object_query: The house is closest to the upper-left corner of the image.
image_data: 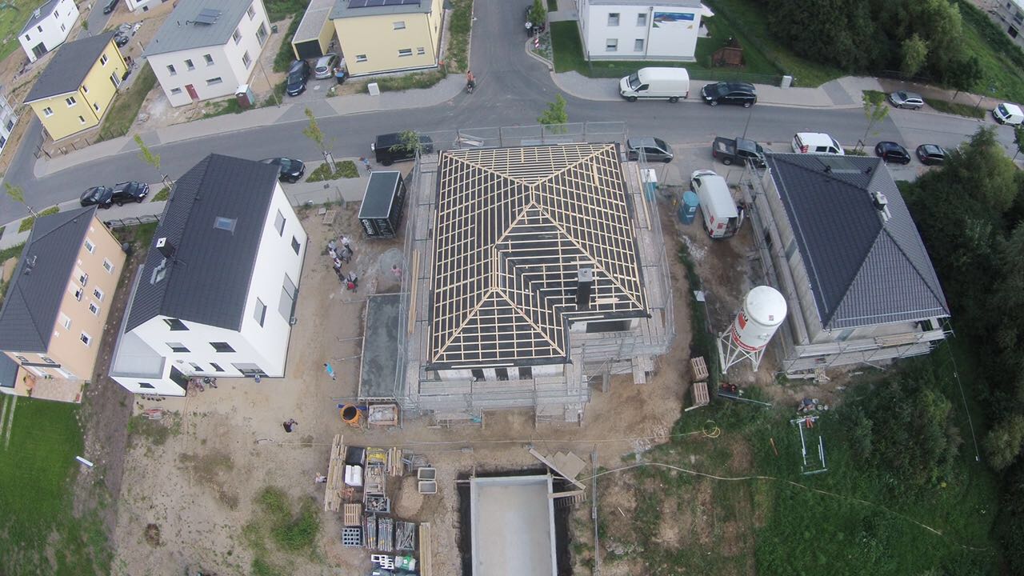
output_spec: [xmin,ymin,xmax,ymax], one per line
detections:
[10,0,80,63]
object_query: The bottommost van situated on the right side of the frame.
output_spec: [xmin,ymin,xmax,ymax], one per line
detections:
[695,172,753,247]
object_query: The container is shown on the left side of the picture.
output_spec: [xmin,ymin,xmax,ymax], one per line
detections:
[359,171,404,238]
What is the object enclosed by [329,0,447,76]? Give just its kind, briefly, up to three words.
house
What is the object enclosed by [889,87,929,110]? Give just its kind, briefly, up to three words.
car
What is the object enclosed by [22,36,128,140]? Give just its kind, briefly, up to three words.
house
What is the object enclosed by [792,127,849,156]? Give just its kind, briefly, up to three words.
vehicle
